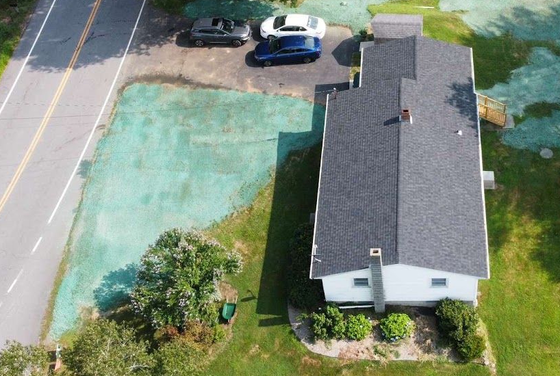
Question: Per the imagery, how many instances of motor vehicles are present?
3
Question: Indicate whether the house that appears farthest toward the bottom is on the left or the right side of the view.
right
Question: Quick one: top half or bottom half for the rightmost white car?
top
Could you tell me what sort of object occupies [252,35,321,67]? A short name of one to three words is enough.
car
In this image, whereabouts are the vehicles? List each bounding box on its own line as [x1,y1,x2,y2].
[184,15,252,49]
[257,11,326,40]
[252,35,321,67]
